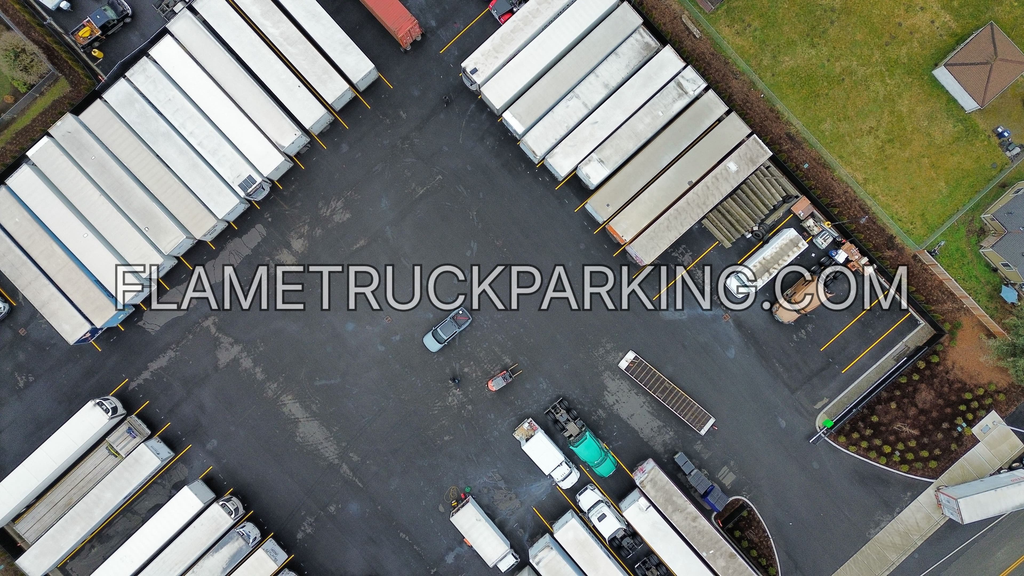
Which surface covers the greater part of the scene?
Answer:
paved ground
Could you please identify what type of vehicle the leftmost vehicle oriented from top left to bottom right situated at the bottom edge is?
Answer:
truck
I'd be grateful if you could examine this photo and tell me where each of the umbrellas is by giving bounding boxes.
[993,284,1016,305]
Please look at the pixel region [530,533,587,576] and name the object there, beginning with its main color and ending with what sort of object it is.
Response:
white trailer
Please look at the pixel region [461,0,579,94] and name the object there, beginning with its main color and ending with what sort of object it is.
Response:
white trailer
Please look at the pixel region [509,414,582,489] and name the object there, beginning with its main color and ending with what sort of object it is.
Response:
white truck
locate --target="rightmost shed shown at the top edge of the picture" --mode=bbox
[933,21,1024,110]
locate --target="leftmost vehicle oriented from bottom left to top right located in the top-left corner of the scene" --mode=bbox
[69,1,136,51]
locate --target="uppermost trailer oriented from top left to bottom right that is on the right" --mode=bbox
[617,349,716,436]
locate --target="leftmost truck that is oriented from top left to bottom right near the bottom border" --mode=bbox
[450,491,523,575]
